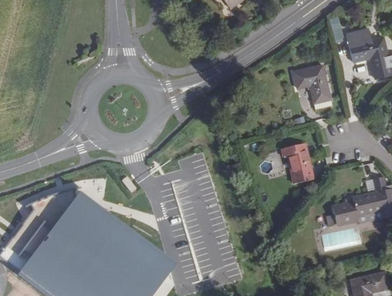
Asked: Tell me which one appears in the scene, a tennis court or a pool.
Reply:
pool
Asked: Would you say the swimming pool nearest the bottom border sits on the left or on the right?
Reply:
right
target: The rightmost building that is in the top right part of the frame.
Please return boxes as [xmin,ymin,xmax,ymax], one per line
[346,28,392,80]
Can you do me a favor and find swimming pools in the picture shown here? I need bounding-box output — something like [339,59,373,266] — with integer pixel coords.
[320,226,364,252]
[260,162,272,173]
